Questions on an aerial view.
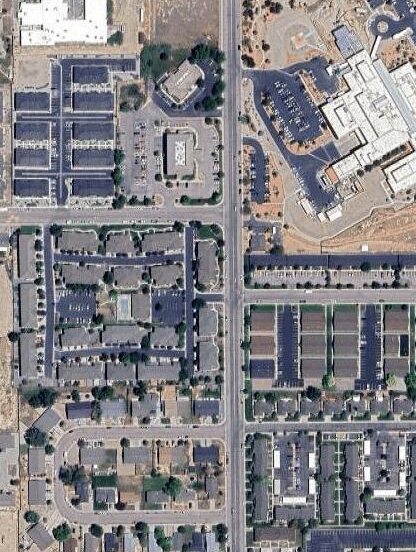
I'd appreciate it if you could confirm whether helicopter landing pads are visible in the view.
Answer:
Yes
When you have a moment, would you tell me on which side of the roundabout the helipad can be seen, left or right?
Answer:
to the left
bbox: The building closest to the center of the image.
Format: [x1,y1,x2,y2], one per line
[194,241,220,290]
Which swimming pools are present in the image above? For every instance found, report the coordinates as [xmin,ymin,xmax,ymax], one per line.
[118,293,131,319]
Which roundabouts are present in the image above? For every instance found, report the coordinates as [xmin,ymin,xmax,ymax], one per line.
[368,11,407,39]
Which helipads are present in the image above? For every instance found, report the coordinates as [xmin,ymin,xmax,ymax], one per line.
[266,16,328,68]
